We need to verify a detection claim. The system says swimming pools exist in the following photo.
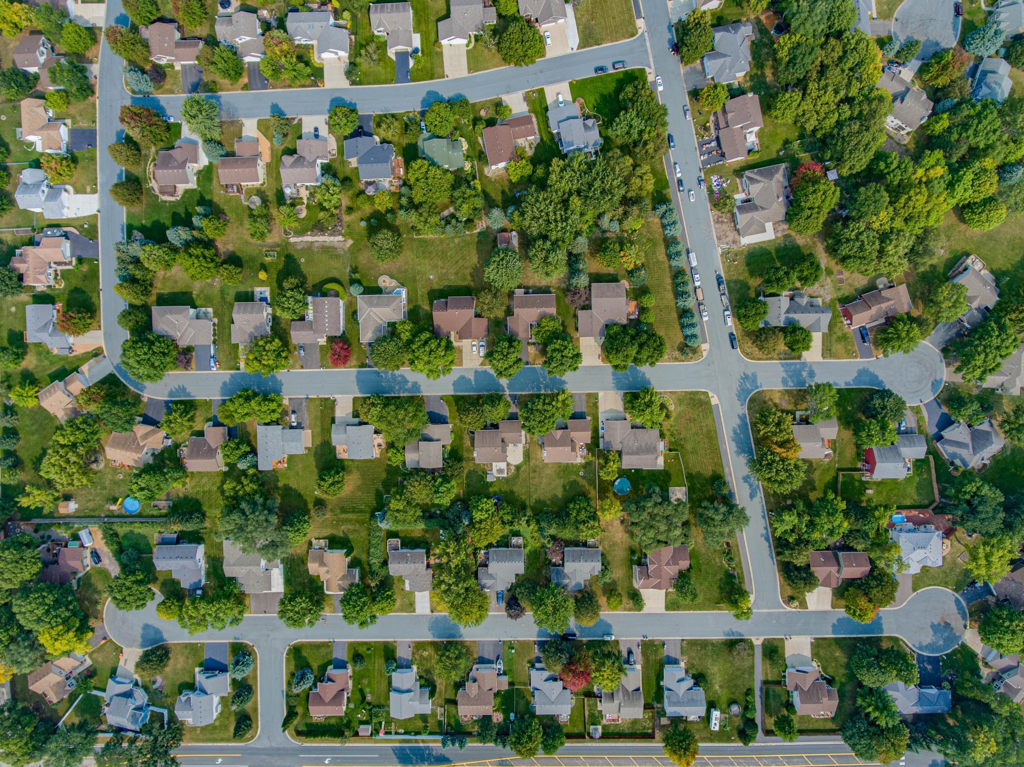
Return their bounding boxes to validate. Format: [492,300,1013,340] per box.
[613,477,631,495]
[123,495,142,514]
[891,513,907,523]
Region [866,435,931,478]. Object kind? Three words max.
house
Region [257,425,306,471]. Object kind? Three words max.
house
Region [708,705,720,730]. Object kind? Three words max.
vehicle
